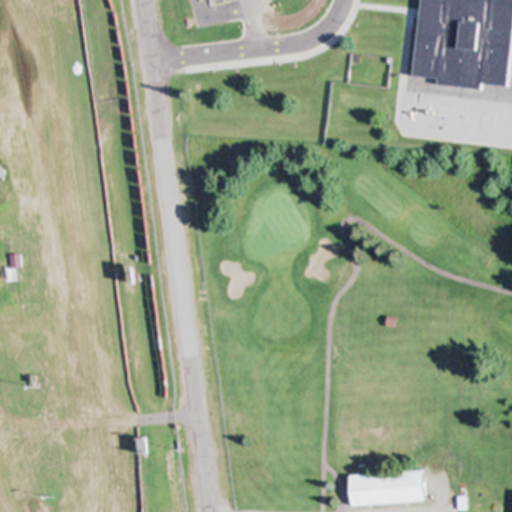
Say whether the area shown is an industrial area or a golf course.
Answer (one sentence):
The area seen from above is a golf course.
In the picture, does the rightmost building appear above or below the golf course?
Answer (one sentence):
The rightmost building is located above the golf course in this view.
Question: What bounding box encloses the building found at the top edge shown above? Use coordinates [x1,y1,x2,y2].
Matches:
[411,0,512,89]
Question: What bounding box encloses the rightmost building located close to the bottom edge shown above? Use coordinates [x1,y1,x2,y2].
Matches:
[348,469,426,507]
